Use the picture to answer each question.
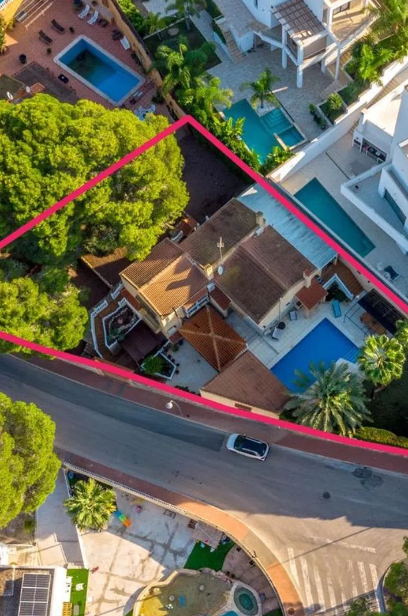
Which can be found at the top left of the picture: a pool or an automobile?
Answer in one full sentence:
It is a pool that can be seen at the top left of the picture.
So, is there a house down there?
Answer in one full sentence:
Yes, this view includes a house.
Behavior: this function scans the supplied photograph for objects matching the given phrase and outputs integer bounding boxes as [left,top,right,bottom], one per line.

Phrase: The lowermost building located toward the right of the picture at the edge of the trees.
[201,350,291,419]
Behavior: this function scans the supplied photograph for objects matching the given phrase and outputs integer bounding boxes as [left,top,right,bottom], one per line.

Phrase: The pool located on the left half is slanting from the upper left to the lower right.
[51,35,147,107]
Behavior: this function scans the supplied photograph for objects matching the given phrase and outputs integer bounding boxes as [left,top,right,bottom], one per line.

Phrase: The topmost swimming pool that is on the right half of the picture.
[228,97,308,168]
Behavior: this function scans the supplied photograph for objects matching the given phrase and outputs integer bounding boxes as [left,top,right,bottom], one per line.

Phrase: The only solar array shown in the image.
[17,574,50,616]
